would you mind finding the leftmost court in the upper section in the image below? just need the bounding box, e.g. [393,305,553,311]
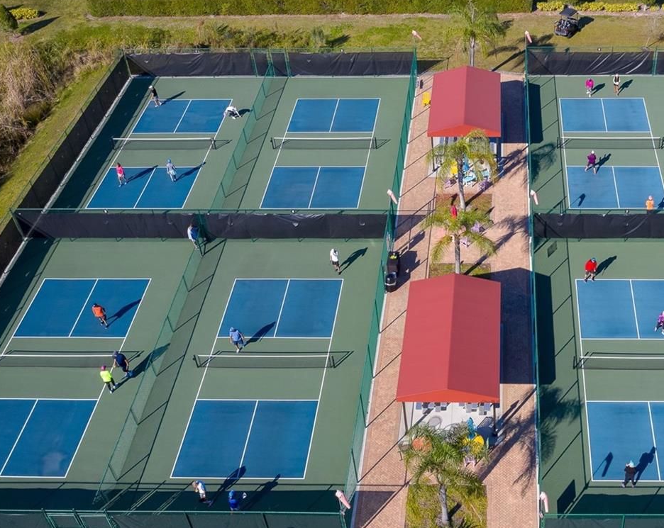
[30,77,274,238]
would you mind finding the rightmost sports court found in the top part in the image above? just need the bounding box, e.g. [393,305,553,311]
[528,75,664,213]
